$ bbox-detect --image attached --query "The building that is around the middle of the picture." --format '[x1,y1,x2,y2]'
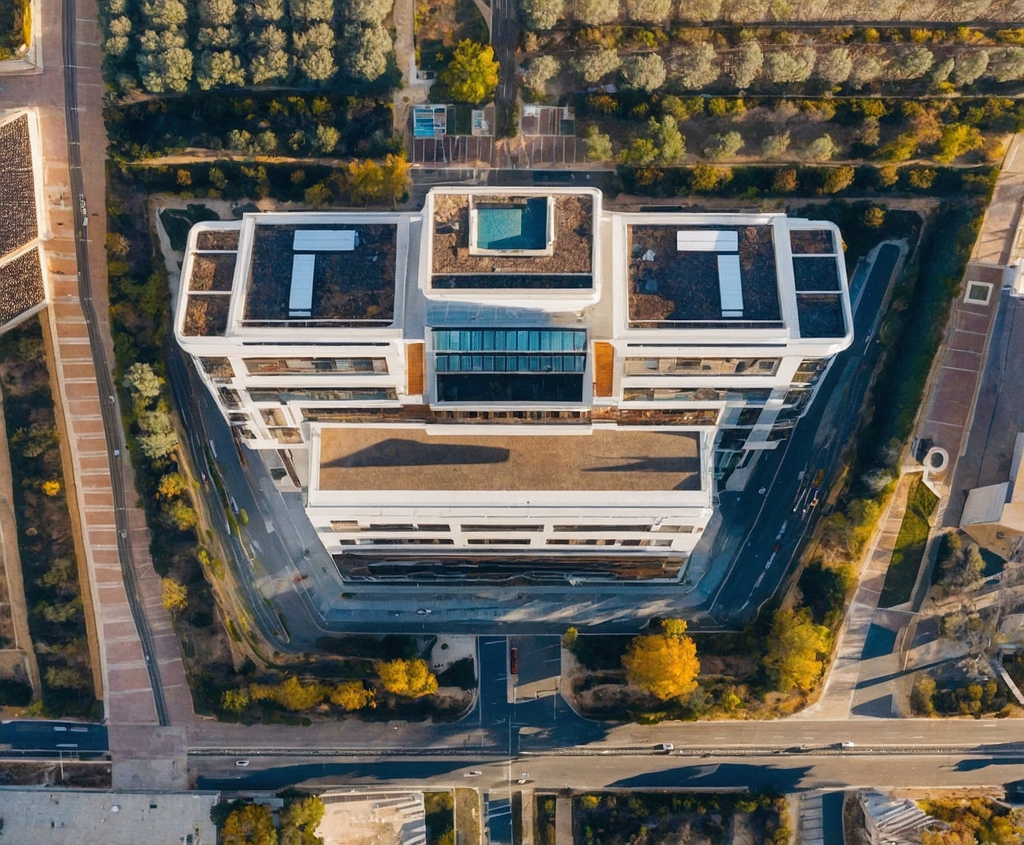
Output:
[175,187,853,582]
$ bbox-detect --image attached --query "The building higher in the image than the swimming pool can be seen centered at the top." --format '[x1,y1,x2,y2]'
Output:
[472,109,485,140]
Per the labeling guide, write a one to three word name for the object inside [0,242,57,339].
house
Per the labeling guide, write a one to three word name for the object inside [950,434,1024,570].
house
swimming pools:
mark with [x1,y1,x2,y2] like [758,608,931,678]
[475,207,547,249]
